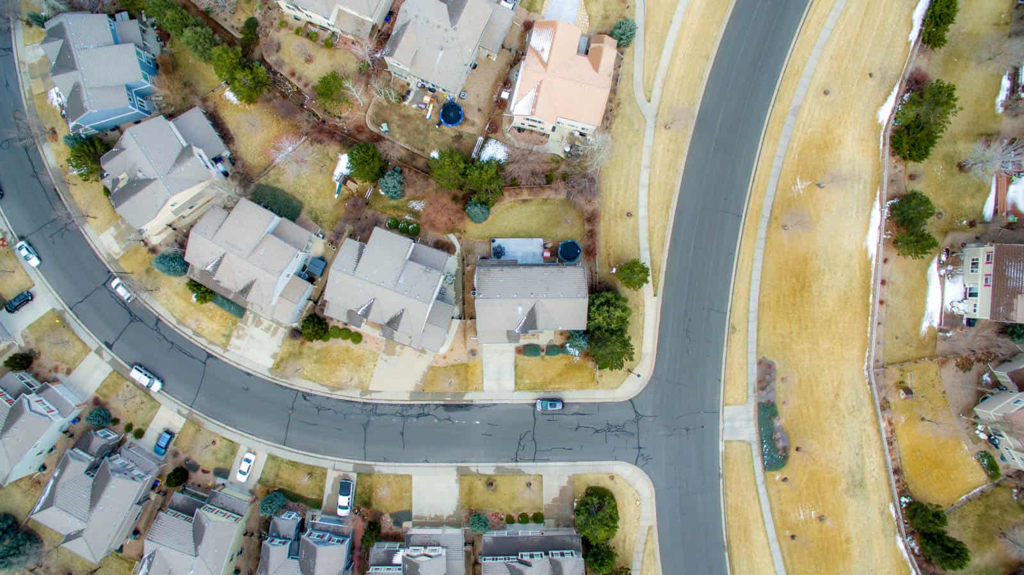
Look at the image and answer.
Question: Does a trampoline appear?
Yes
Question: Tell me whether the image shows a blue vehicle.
Yes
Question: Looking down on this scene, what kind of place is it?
residential area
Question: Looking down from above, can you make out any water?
No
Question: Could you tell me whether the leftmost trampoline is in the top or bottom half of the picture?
top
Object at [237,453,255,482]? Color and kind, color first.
white car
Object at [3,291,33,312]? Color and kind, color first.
blue car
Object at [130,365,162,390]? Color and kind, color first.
white vehicle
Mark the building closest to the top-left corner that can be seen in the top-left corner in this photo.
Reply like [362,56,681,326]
[39,10,159,138]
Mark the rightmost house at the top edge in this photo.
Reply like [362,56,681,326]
[513,17,618,133]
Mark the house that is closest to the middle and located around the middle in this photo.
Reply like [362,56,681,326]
[475,259,589,345]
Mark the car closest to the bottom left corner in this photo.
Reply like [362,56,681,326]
[155,429,175,456]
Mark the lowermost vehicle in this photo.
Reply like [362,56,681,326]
[337,480,352,515]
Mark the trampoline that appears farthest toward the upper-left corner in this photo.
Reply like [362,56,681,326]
[437,101,464,126]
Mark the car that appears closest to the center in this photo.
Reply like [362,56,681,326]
[537,399,563,412]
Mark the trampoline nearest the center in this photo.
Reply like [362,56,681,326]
[555,239,581,263]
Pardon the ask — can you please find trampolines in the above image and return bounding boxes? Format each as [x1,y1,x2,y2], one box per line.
[555,239,581,263]
[437,101,464,126]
